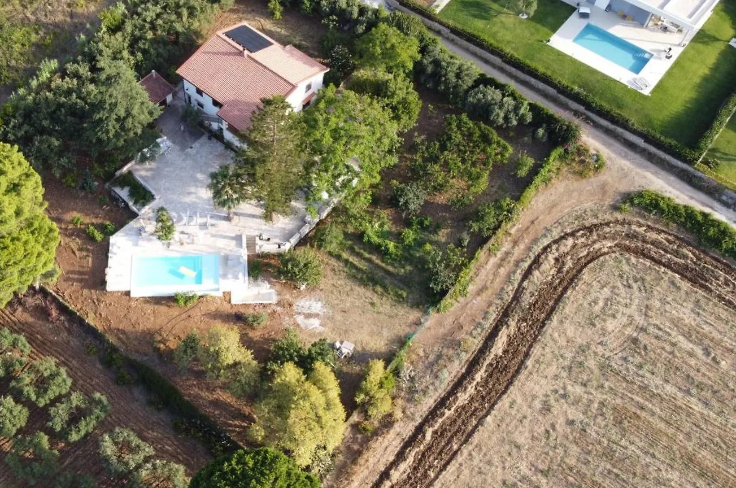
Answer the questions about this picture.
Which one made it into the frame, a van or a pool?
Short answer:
pool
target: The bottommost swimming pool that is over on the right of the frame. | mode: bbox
[573,24,652,73]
